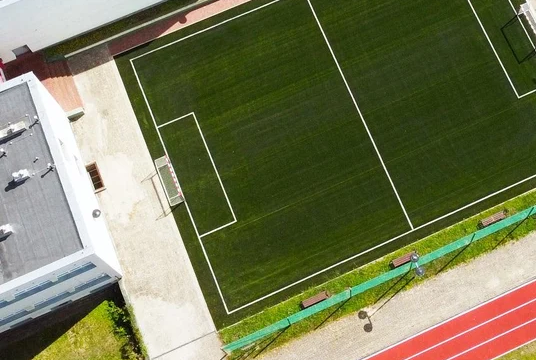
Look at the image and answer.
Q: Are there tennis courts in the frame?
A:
No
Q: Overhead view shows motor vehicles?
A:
No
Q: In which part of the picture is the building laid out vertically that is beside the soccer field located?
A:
left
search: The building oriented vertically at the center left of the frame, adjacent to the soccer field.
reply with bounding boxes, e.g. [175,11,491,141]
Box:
[0,69,120,337]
